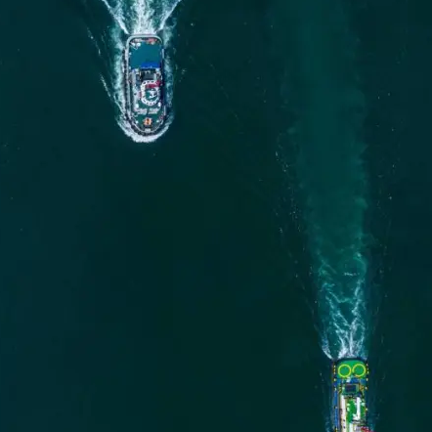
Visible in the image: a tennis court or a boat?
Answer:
boat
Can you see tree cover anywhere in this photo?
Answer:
No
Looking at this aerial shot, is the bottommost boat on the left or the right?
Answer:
right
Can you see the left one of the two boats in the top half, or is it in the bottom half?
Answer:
top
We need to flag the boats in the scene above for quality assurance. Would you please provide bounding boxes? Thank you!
[124,37,165,139]
[331,360,376,432]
